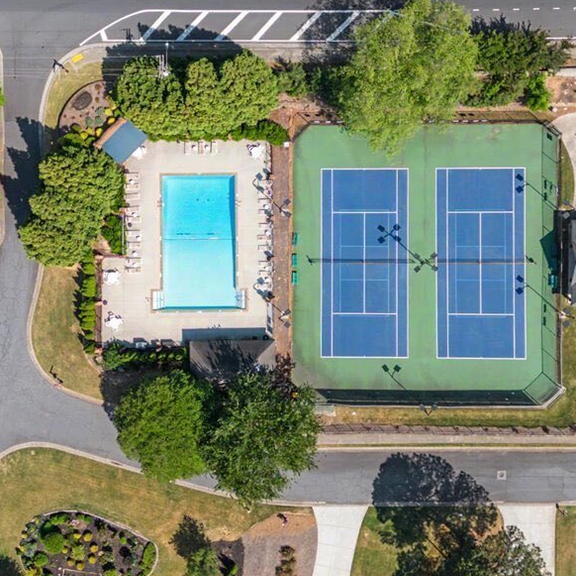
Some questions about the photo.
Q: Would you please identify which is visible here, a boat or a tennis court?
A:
tennis court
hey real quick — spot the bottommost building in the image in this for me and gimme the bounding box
[189,340,276,391]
